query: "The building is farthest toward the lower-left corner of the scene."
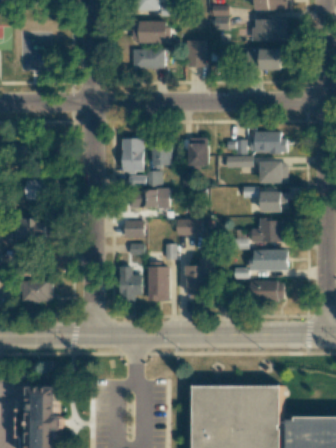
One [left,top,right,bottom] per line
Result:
[22,386,65,448]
